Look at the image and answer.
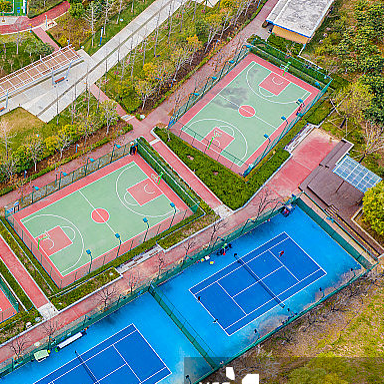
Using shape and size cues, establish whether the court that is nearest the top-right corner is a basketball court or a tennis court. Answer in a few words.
basketball court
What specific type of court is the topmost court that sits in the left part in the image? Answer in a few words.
basketball court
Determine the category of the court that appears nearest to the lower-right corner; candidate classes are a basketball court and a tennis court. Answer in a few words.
tennis court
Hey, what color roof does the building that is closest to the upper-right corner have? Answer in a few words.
white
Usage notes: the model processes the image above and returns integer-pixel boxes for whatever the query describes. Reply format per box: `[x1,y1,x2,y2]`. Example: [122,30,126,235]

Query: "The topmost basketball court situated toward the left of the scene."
[7,151,193,289]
